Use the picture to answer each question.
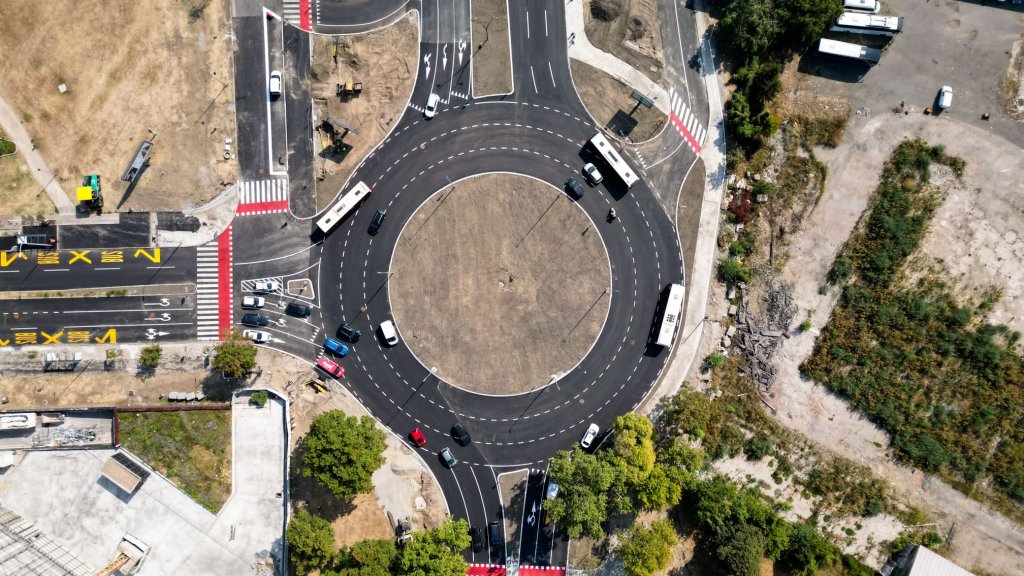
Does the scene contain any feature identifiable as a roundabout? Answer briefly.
Yes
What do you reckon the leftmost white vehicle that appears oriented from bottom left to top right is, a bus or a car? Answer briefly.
bus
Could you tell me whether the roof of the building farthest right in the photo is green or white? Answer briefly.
white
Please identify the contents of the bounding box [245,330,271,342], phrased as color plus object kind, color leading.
white vehicle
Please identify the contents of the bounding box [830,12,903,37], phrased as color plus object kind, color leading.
white bus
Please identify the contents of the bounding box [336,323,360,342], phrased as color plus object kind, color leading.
black car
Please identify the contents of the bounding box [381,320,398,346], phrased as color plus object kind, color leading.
white vehicle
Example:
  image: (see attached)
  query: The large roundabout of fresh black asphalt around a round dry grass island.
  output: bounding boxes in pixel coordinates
[316,100,684,468]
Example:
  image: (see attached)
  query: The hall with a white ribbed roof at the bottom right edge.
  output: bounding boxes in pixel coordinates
[892,541,977,576]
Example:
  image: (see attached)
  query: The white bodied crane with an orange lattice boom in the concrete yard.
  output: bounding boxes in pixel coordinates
[94,530,151,576]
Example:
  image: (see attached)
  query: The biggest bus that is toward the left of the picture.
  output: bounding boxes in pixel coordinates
[317,181,374,234]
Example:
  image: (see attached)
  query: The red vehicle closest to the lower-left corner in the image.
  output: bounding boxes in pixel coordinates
[318,358,344,377]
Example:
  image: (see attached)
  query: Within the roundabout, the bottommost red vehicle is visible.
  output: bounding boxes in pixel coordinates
[411,427,426,446]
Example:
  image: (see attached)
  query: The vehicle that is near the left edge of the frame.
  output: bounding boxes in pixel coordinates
[15,236,51,255]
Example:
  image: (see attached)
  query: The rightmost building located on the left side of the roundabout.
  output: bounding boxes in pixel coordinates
[100,443,160,494]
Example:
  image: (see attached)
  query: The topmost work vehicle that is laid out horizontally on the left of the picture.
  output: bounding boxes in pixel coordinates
[335,82,365,96]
